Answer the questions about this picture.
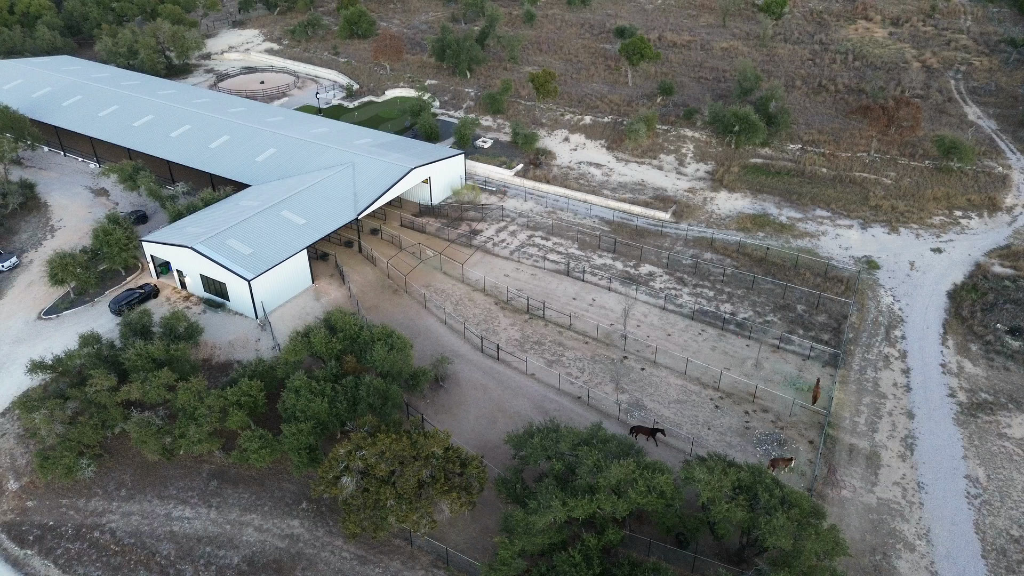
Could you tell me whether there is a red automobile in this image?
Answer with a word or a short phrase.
No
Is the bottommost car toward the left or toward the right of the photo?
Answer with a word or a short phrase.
left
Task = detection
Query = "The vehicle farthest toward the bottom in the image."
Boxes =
[109,280,166,310]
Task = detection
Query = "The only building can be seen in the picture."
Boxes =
[0,55,467,327]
